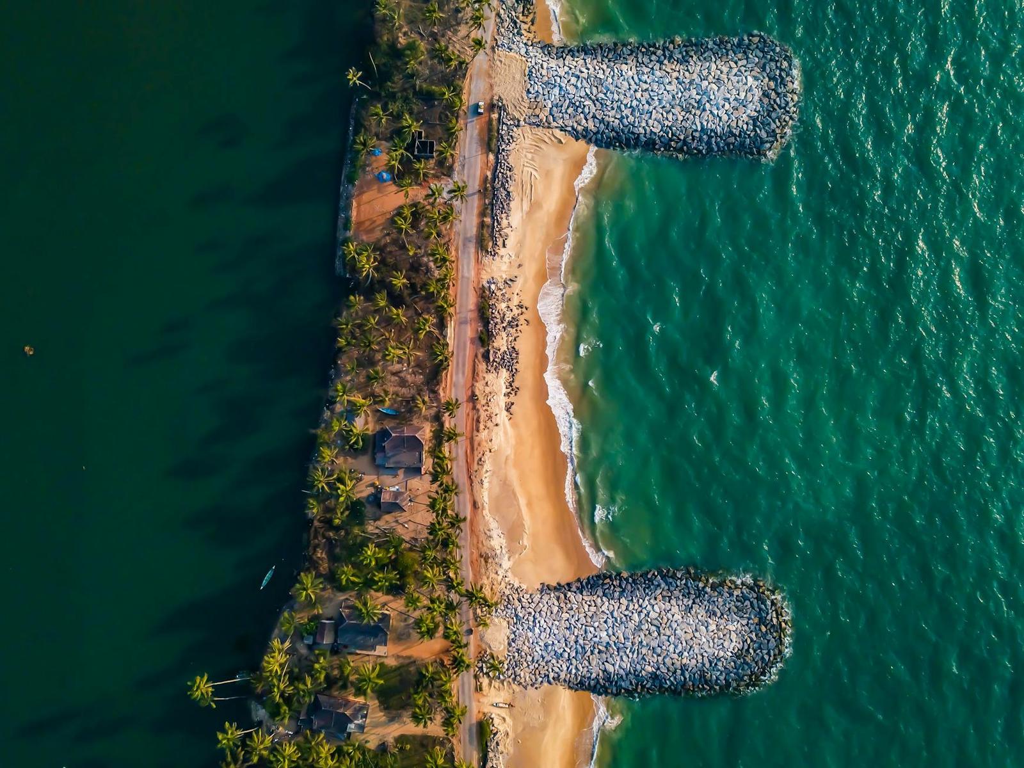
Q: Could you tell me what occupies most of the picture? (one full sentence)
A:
What you mostly see from above here is water.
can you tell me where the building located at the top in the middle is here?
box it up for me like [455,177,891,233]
[414,129,435,156]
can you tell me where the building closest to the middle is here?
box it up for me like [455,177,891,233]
[376,425,425,476]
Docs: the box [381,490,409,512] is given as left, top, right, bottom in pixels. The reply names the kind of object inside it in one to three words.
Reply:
house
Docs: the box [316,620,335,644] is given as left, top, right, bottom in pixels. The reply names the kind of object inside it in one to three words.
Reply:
shed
